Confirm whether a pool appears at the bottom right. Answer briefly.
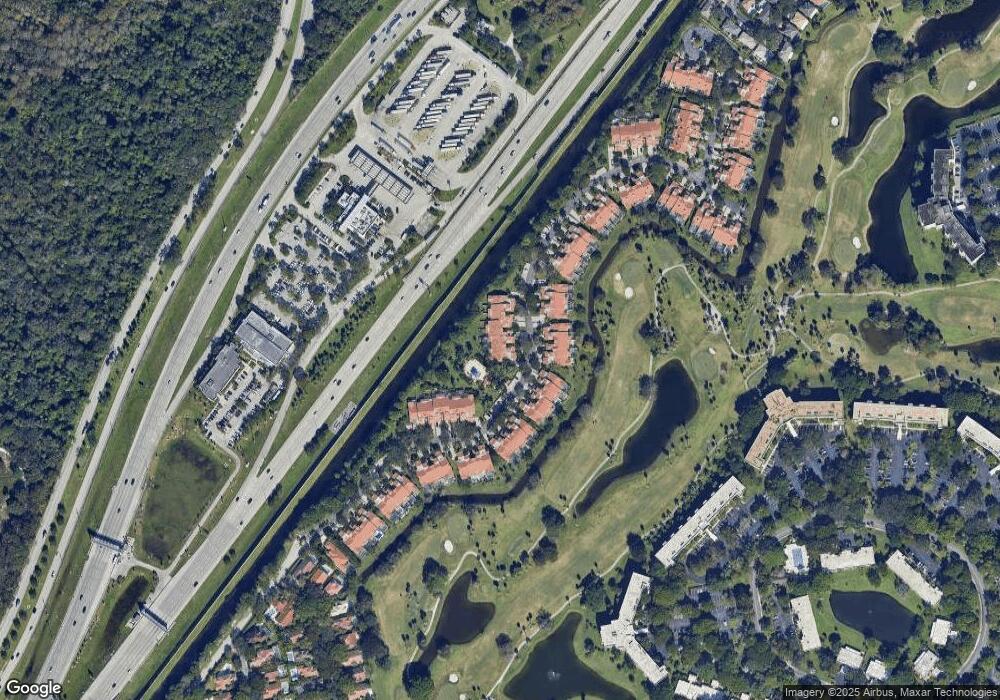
Yes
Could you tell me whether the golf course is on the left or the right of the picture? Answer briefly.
right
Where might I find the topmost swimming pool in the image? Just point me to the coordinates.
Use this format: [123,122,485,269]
[464,361,483,380]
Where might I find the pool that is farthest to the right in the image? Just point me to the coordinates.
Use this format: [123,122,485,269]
[785,545,809,572]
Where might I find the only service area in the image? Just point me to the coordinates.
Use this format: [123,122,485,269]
[203,0,534,446]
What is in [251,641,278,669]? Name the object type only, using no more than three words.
house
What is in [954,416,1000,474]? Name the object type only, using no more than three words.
building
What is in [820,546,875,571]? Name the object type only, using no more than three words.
building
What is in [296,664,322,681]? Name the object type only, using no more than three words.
house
